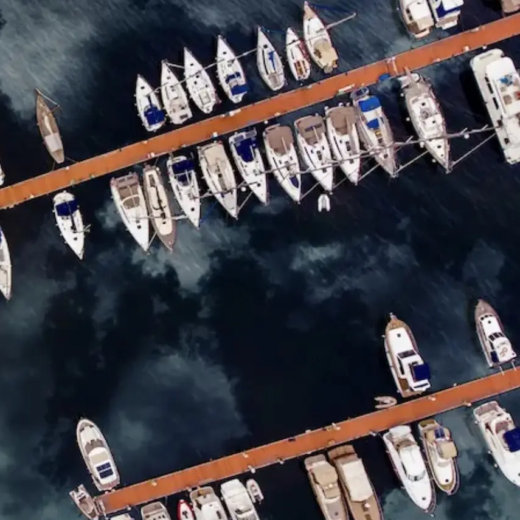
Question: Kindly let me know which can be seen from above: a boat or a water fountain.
boat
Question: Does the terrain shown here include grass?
No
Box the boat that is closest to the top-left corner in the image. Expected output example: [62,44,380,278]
[32,81,65,165]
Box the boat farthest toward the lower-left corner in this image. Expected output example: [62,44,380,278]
[70,485,100,520]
